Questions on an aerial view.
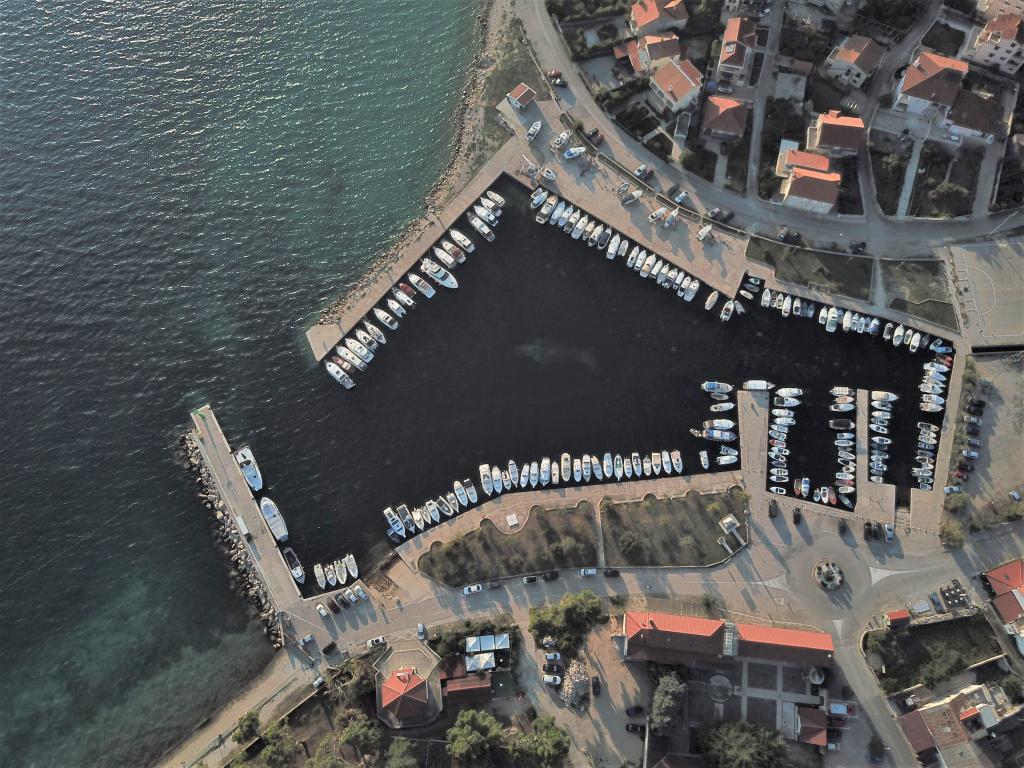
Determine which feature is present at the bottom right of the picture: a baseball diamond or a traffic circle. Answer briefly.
traffic circle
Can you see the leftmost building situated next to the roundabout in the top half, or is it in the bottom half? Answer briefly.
bottom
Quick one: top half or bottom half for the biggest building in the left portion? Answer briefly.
bottom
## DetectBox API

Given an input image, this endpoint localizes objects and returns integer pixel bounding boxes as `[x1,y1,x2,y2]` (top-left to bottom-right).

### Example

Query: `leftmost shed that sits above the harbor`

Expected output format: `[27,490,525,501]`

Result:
[509,82,537,107]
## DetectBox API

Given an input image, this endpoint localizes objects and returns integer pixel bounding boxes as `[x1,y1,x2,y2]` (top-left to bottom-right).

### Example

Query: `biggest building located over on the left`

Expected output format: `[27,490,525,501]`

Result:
[373,640,443,729]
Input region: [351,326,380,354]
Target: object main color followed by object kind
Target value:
white boat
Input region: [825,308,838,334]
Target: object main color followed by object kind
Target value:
white boat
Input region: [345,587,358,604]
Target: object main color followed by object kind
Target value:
white vehicle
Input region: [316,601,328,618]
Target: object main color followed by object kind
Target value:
white vehicle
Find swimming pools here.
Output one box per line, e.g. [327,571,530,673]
[584,28,600,48]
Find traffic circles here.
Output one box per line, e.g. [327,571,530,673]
[754,530,905,638]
